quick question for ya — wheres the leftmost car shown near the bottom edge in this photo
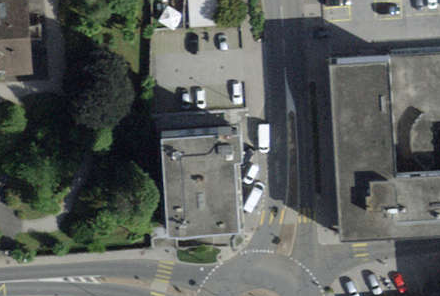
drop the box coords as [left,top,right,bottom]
[345,278,359,296]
